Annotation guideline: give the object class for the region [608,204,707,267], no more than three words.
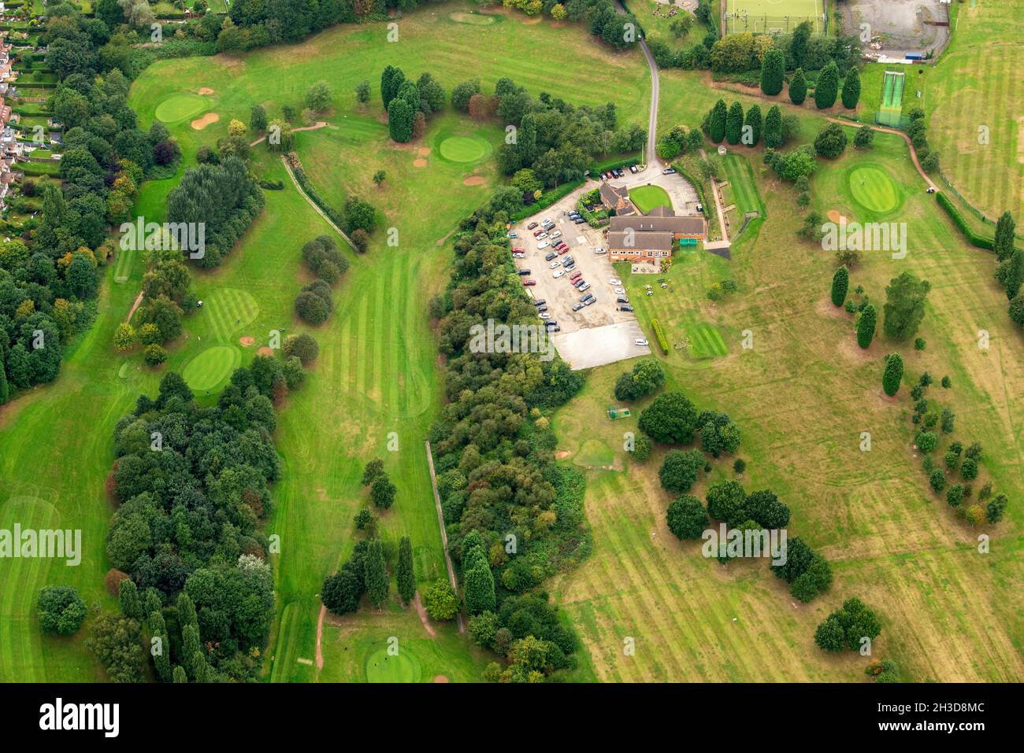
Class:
building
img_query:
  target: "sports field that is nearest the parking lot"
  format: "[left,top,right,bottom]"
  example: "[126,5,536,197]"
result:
[721,0,821,33]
